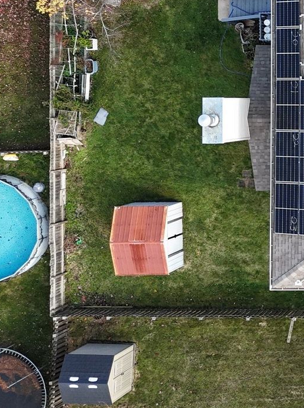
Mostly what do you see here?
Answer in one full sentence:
For the most part, this view shows grass.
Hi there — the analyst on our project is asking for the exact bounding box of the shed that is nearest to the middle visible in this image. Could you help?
[109,203,183,276]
